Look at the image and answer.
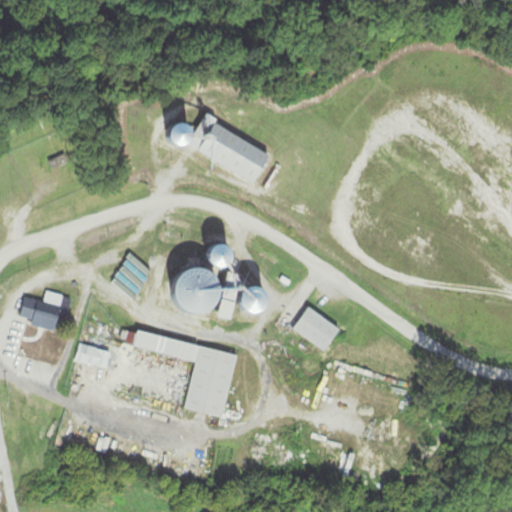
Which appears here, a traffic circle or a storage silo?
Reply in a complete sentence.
The one in the frame is a storage silo.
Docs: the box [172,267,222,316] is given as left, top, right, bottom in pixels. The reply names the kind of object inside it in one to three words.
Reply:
silo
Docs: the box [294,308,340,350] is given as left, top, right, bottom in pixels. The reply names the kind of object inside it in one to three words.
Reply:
barn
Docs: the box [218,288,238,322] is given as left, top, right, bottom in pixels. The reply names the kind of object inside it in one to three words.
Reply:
shed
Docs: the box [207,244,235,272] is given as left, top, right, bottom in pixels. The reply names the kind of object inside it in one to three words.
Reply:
silo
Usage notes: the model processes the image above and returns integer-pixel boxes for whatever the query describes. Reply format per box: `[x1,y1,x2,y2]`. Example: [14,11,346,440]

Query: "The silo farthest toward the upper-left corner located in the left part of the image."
[168,122,194,150]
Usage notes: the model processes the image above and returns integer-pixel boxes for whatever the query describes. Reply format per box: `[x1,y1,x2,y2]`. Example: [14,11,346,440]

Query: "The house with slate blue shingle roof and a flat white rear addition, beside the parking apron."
[18,290,70,332]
